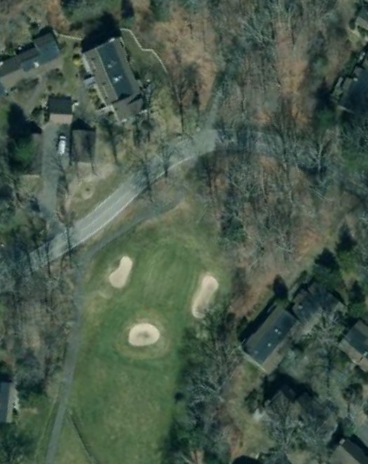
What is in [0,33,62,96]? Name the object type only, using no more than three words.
house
